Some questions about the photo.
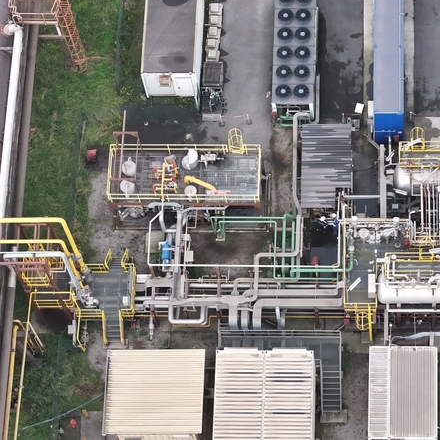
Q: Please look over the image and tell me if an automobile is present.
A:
No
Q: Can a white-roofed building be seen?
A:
Yes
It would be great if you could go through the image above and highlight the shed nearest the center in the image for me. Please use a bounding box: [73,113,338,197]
[300,123,355,223]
